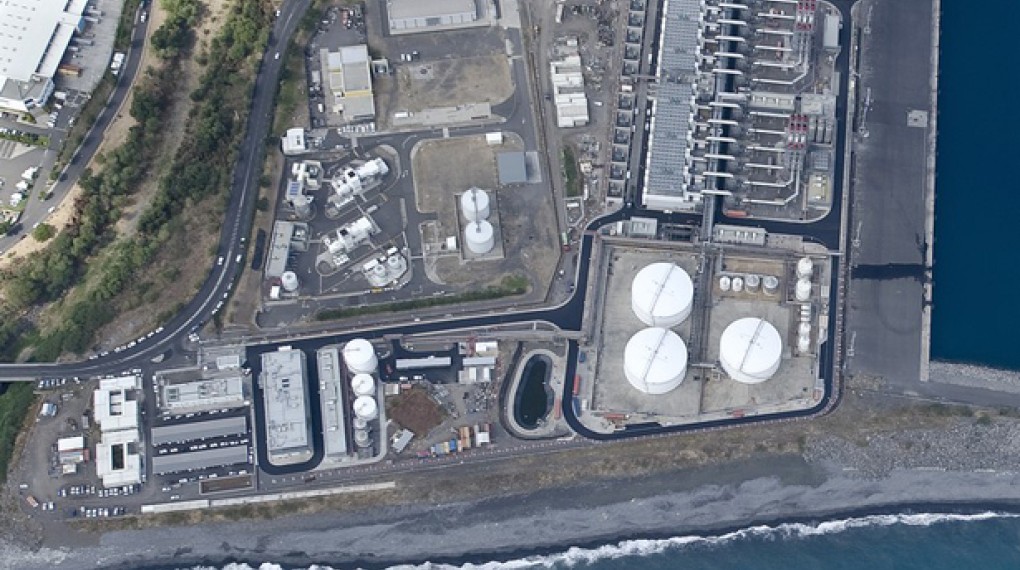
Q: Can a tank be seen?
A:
Yes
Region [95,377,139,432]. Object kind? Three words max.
building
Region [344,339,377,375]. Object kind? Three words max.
storage tank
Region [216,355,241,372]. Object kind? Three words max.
building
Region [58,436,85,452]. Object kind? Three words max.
shed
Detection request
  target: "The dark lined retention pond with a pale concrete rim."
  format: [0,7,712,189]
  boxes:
[506,348,563,436]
